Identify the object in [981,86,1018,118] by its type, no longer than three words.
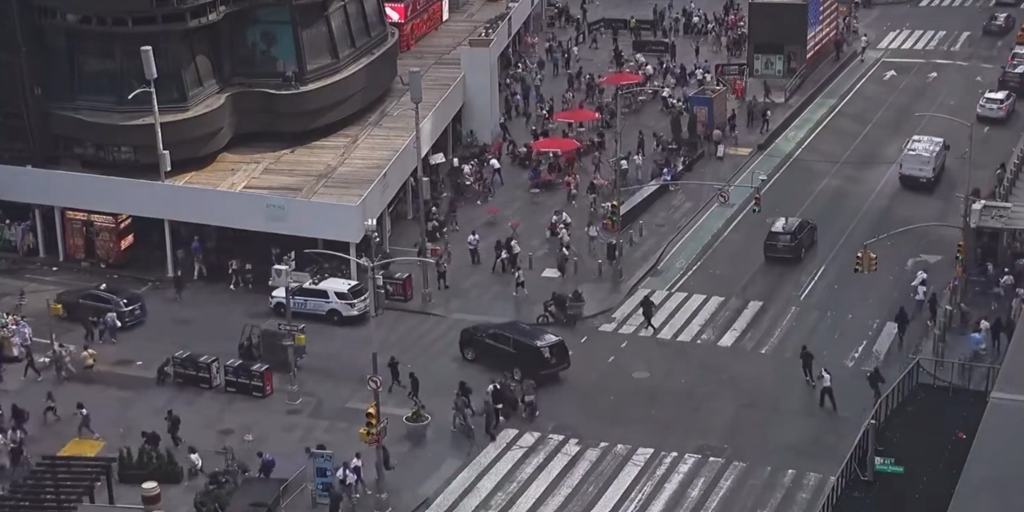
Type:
car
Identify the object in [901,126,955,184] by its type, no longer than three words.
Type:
vehicle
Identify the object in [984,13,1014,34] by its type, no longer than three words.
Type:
car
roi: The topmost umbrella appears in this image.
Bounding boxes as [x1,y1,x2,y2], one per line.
[600,75,643,115]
